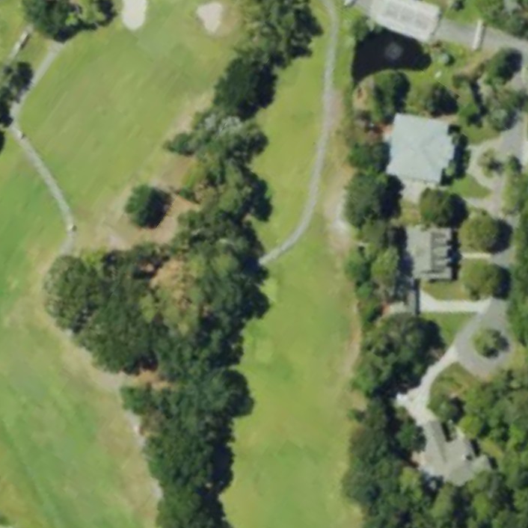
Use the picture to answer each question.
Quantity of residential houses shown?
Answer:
three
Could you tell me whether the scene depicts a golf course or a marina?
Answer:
golf course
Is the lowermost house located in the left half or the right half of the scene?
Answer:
right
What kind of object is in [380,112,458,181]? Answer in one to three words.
house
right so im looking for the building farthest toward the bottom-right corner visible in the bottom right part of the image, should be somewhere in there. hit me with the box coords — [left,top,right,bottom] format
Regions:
[417,419,494,487]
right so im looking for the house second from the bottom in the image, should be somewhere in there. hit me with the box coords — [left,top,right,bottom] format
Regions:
[405,225,454,314]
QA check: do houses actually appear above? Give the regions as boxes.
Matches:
[405,225,454,314]
[417,419,494,487]
[380,112,458,181]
